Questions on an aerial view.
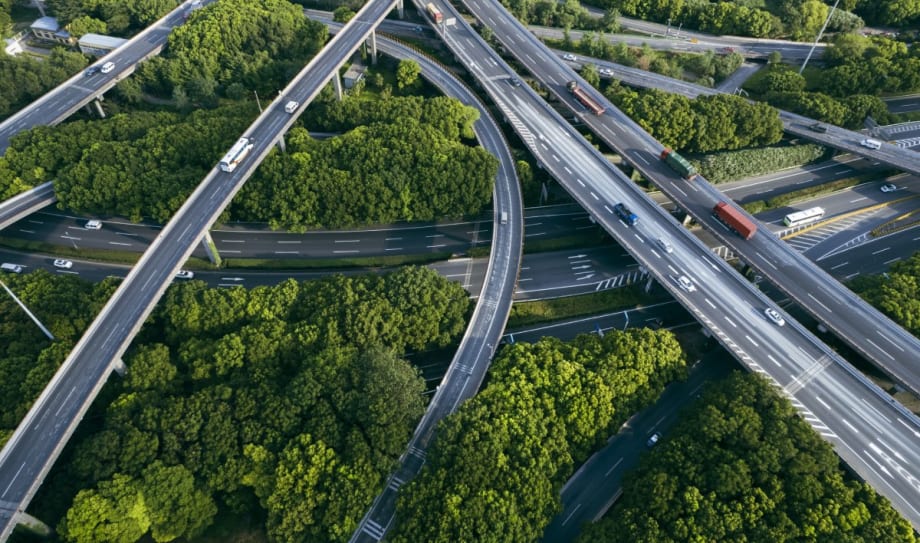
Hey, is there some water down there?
No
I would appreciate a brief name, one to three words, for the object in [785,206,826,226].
vehicle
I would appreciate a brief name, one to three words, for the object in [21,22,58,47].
building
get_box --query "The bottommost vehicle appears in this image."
[644,431,661,450]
